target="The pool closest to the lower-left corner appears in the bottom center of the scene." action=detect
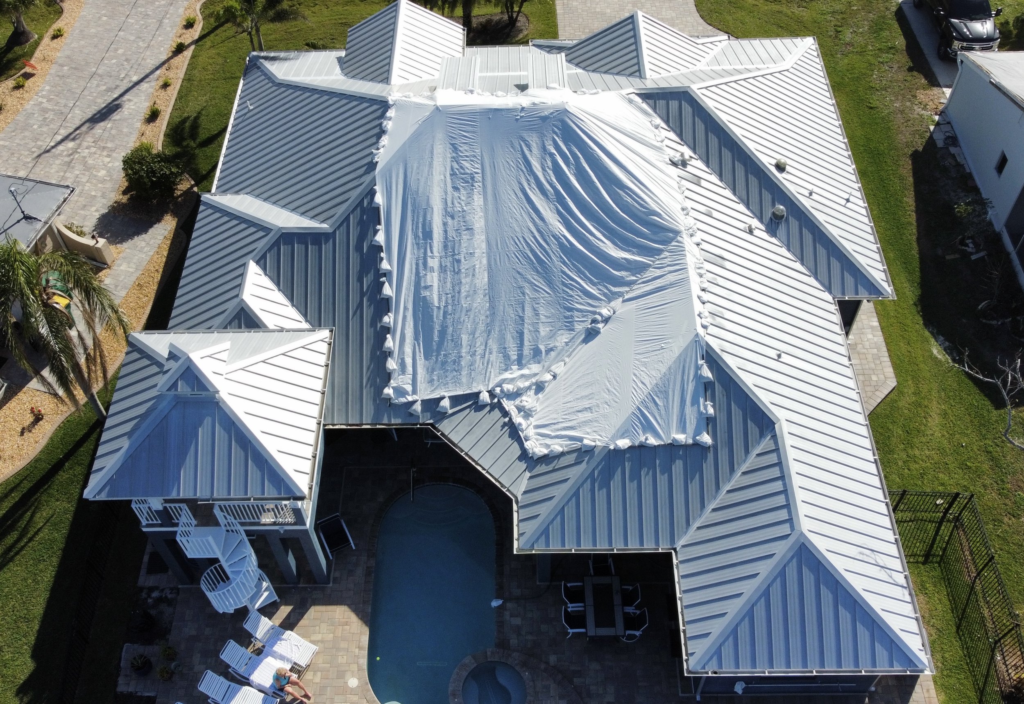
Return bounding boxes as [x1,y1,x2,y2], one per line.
[354,472,508,704]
